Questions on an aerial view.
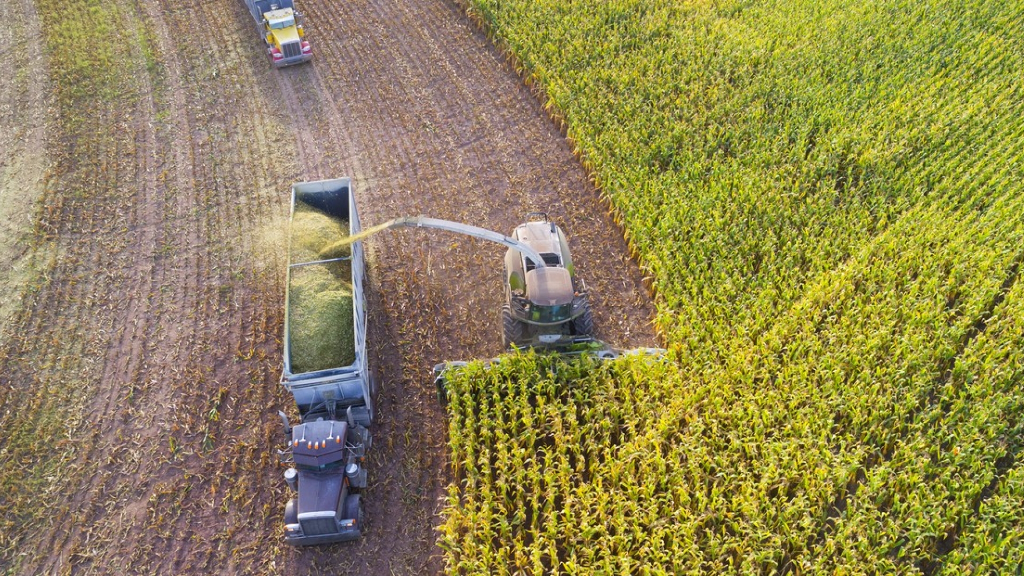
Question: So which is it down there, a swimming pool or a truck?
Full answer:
I can see a truck in this picture.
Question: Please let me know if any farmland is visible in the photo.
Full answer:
Yes, the picture does contain farmland.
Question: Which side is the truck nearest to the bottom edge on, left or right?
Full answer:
You can find the truck nearest to the bottom edge on the left side of the picture.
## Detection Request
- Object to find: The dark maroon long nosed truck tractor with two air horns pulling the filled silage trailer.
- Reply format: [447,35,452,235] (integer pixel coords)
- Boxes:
[269,400,369,546]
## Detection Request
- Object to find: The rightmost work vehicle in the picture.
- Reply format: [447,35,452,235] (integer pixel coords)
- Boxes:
[386,213,673,410]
